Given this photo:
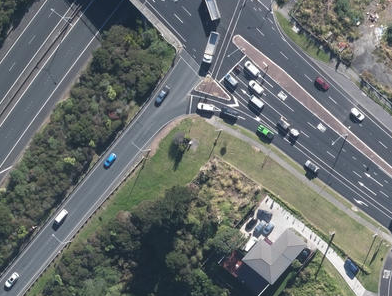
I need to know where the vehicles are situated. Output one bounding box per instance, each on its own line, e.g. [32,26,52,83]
[256,210,272,220]
[252,220,266,234]
[250,94,266,109]
[350,107,365,122]
[104,153,117,166]
[156,86,170,102]
[244,217,258,232]
[244,61,260,76]
[314,77,330,91]
[224,73,239,86]
[262,222,274,235]
[256,124,274,138]
[203,32,218,63]
[4,273,18,288]
[276,116,292,130]
[344,260,358,274]
[198,103,214,110]
[304,160,320,173]
[249,80,264,95]
[220,106,238,118]
[54,208,70,224]
[298,248,310,262]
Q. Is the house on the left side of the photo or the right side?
right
